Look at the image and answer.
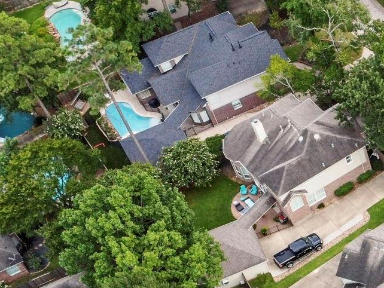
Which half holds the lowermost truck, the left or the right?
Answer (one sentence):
The lowermost truck sits on the right side.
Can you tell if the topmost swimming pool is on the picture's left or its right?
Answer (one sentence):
The topmost swimming pool is on the left side of the image.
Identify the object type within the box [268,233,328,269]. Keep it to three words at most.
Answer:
truck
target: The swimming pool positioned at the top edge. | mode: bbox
[47,6,86,61]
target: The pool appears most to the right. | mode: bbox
[102,100,165,139]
